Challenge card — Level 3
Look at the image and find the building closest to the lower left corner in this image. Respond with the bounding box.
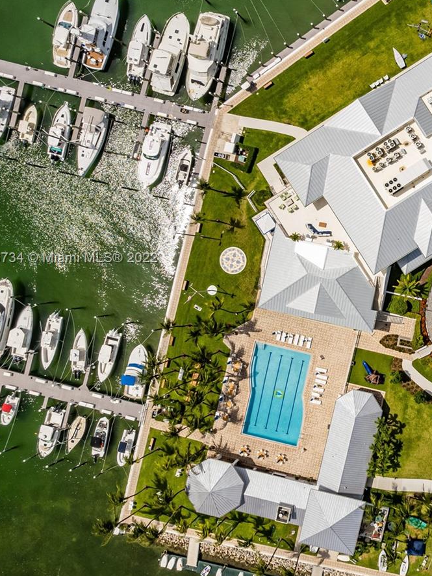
[185,458,240,519]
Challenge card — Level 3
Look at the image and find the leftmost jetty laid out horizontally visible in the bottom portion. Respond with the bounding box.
[0,366,147,422]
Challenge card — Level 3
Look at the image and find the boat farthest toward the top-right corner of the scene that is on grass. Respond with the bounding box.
[392,47,406,68]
